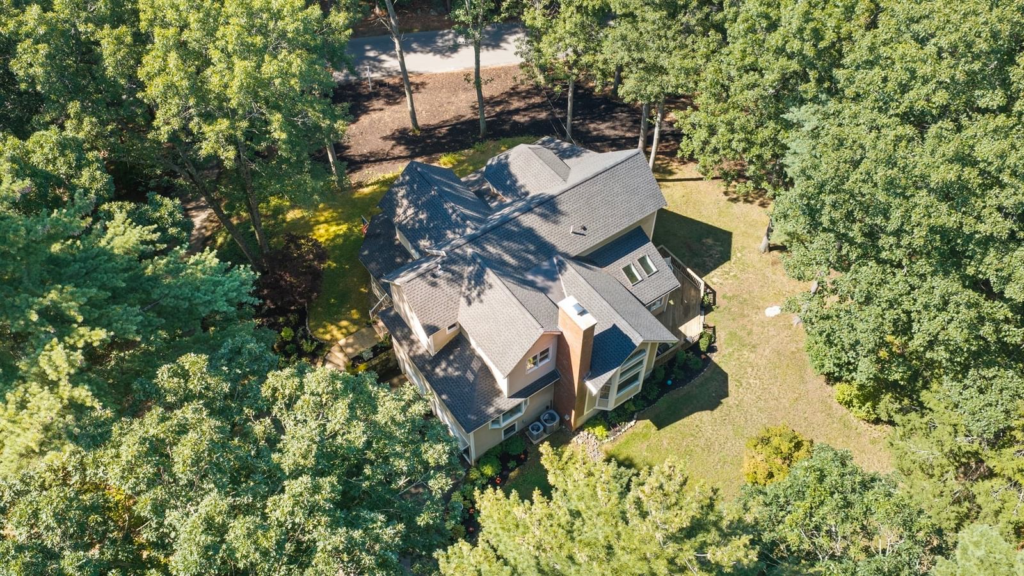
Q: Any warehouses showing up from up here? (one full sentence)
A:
No, there appears to be no warehouse in this shot.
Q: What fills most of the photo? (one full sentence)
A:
For the most part, this view shows trees.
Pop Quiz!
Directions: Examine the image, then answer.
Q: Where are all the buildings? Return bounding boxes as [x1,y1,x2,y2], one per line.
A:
[359,136,681,463]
